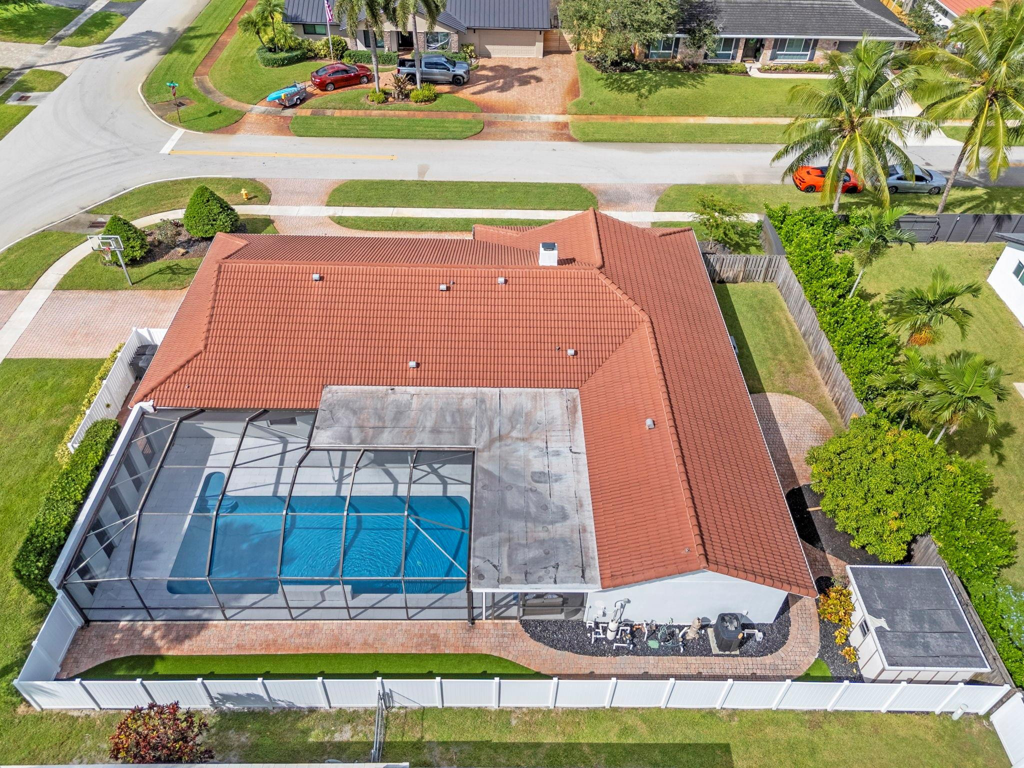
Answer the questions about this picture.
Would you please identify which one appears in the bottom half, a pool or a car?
pool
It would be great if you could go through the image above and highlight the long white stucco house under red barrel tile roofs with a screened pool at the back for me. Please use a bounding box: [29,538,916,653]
[125,206,821,623]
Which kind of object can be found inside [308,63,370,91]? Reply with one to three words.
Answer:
car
